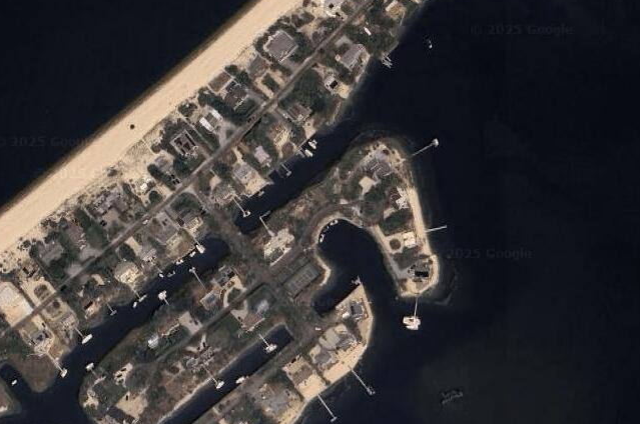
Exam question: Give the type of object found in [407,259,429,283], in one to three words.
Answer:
house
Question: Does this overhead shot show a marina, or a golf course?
marina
